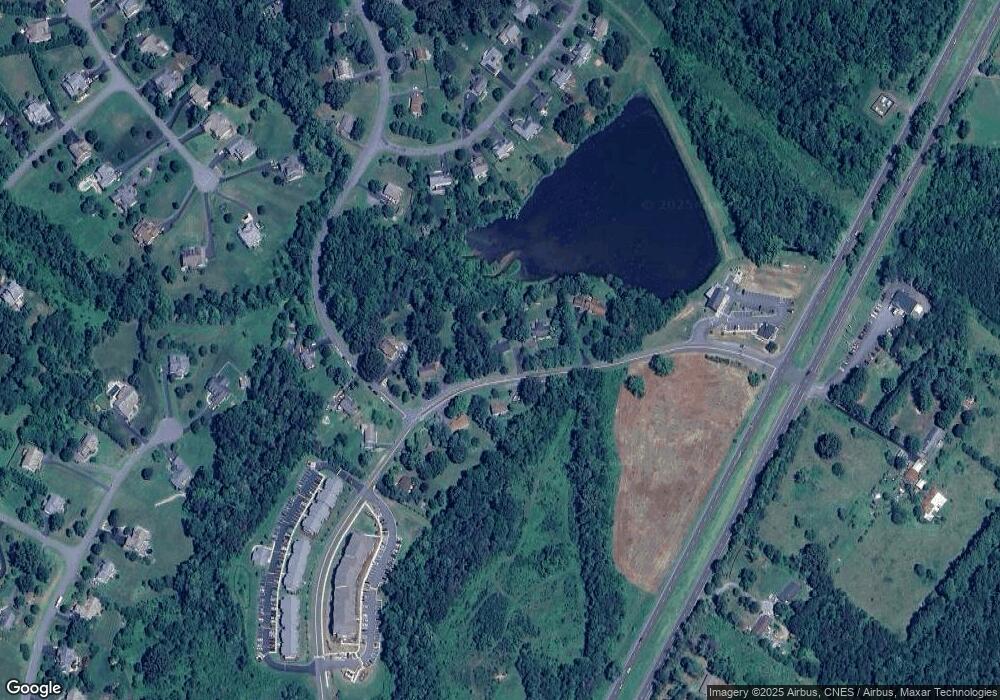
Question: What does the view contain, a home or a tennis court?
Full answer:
Visible in the photo is a home.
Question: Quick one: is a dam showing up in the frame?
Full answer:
Yes, this view includes a dam.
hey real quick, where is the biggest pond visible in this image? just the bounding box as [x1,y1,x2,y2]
[466,90,723,302]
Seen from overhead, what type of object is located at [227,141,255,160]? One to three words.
house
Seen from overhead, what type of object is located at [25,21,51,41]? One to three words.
house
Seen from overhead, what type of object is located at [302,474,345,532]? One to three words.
building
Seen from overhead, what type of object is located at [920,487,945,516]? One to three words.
barn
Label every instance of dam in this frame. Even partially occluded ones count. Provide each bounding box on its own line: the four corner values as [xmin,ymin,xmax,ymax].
[641,71,740,280]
